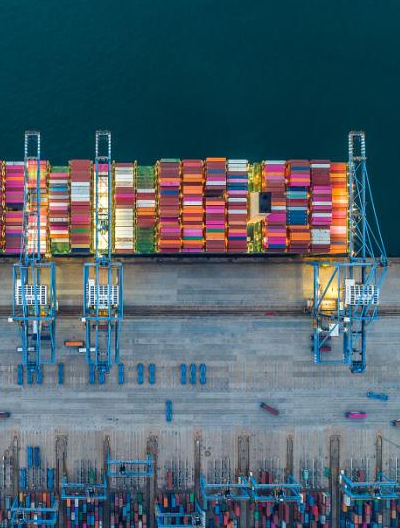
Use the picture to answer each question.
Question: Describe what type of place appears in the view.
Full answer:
This image shows a port.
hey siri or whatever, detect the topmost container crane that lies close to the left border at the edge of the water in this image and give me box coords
[7,124,59,372]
